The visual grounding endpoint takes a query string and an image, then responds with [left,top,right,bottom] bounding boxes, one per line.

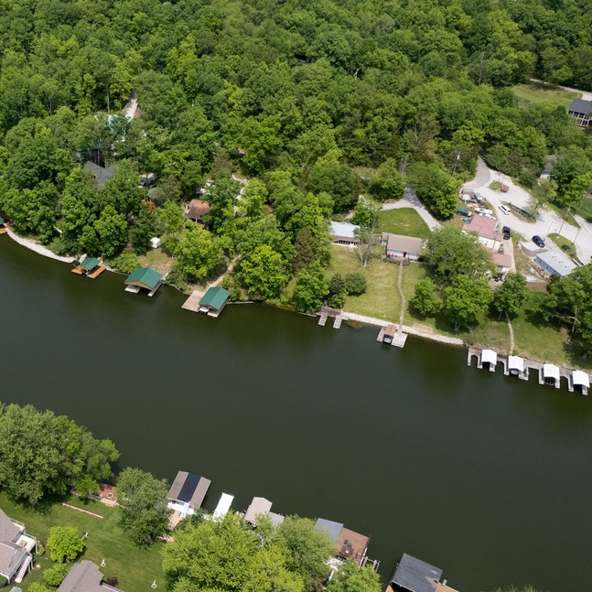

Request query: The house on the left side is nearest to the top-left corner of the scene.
[80,161,112,186]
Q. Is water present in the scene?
Yes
